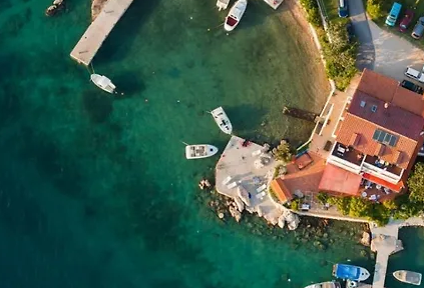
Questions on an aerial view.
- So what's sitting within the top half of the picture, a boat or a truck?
boat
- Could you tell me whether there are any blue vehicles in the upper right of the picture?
Yes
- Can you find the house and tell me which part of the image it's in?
right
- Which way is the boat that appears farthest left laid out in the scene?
on a diagonal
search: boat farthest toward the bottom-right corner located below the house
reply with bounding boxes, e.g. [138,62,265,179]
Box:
[392,270,423,286]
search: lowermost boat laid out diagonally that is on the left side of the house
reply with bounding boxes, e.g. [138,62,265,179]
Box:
[211,106,232,133]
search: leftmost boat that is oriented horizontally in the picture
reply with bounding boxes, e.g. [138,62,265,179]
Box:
[184,143,218,158]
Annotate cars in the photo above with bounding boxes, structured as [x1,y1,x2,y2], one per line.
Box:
[412,14,424,40]
[399,8,414,31]
[336,0,348,17]
[399,78,424,95]
[386,1,402,26]
[402,64,424,83]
